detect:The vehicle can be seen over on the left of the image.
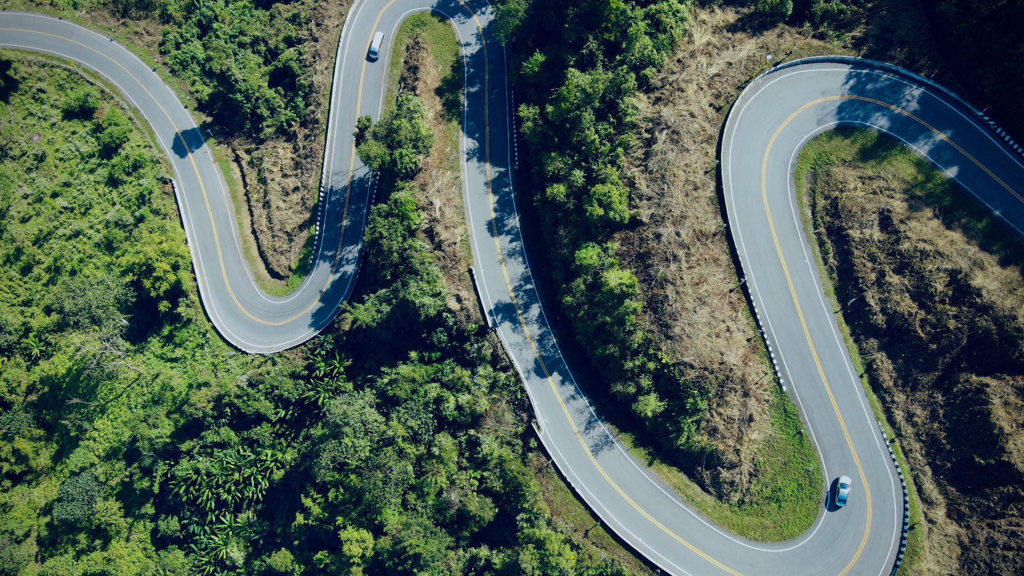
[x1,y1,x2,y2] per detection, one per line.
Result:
[367,30,382,60]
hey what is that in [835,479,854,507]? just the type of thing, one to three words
car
